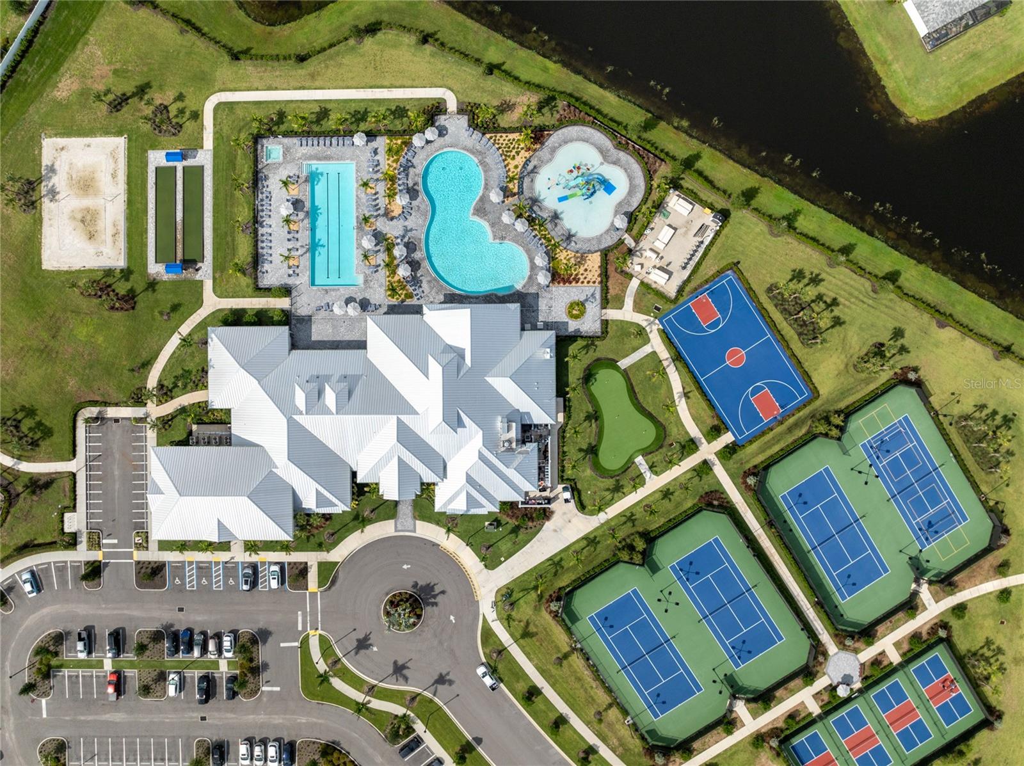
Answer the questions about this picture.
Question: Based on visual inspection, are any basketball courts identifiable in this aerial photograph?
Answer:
Yes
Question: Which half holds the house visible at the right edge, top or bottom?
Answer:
top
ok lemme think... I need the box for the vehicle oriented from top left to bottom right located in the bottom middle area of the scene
[476,661,499,691]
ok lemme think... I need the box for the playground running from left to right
[558,172,617,204]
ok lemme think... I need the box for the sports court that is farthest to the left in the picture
[42,137,125,269]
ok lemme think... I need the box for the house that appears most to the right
[901,0,1014,52]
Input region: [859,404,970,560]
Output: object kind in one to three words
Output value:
tennis court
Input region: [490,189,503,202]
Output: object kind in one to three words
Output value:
umbrella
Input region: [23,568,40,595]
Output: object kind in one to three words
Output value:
car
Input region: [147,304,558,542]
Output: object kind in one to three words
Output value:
building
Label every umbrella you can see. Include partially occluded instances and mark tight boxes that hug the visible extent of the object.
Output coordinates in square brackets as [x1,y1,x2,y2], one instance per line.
[835,683,849,697]
[393,246,407,259]
[515,218,528,232]
[613,214,627,228]
[490,189,503,202]
[281,203,294,215]
[396,192,409,205]
[353,133,367,146]
[334,302,347,315]
[413,133,426,147]
[501,211,515,224]
[398,264,411,277]
[425,127,438,141]
[362,235,376,249]
[535,253,548,266]
[538,272,550,284]
[348,303,361,316]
